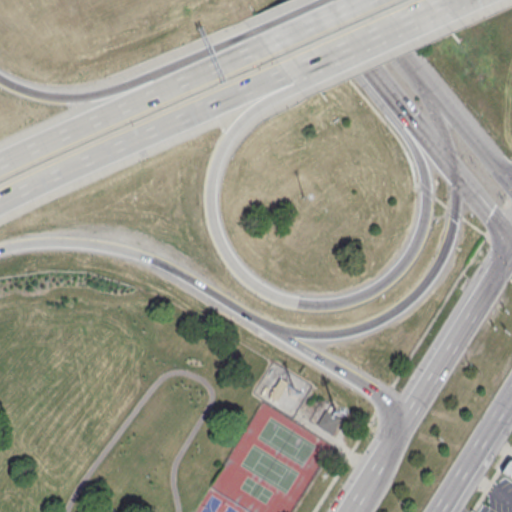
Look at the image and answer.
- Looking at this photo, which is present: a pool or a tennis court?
tennis court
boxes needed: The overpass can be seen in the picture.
[248,0,450,100]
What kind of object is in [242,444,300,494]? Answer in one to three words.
tennis court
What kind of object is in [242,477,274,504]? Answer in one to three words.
sports court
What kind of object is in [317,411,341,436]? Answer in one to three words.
building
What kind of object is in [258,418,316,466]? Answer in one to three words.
tennis court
